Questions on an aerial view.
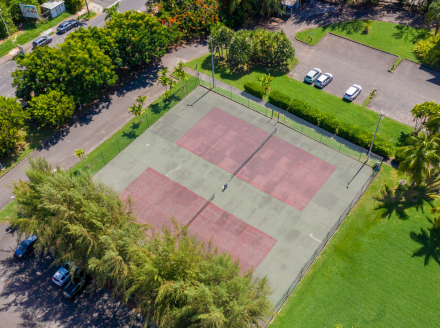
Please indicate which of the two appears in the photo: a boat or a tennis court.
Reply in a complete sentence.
The image shows a tennis court.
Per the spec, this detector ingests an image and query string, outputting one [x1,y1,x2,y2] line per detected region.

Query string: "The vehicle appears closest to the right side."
[342,84,361,100]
